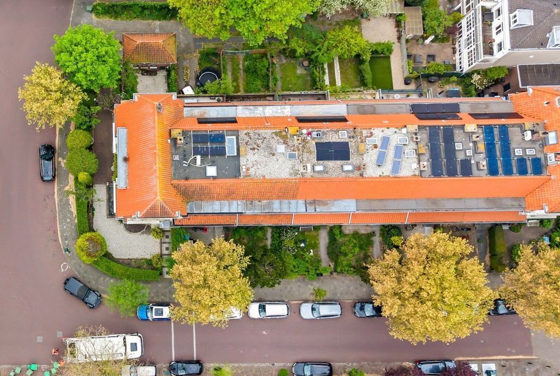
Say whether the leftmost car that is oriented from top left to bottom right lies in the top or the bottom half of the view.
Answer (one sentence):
The leftmost car that is oriented from top left to bottom right is in the bottom half of the image.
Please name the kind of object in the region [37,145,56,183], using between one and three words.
car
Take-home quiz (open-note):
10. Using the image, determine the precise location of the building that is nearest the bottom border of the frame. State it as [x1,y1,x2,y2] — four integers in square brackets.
[115,89,560,231]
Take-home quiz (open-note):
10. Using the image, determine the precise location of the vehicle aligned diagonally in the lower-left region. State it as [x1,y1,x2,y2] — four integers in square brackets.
[63,274,104,312]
